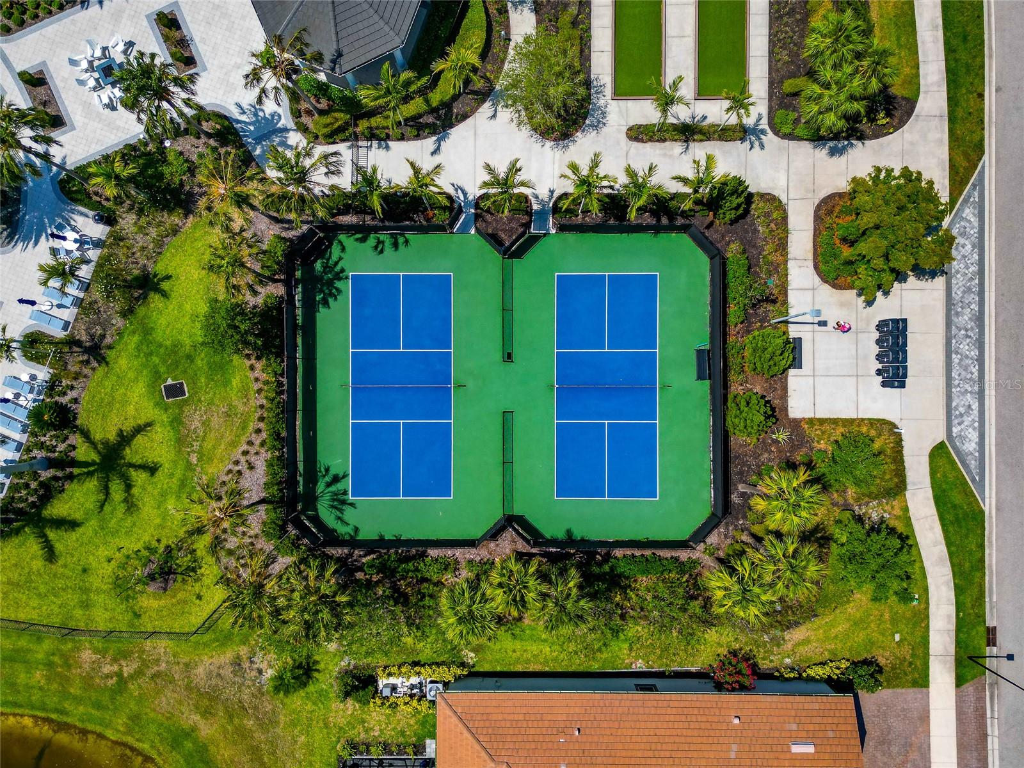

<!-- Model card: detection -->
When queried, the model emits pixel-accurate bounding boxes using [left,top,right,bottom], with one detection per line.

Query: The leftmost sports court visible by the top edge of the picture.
[612,0,665,100]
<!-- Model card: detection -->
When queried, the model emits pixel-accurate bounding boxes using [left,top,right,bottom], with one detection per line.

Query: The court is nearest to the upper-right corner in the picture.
[694,0,749,100]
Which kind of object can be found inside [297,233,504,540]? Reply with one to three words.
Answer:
sports court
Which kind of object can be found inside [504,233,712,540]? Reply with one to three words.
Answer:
sports court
